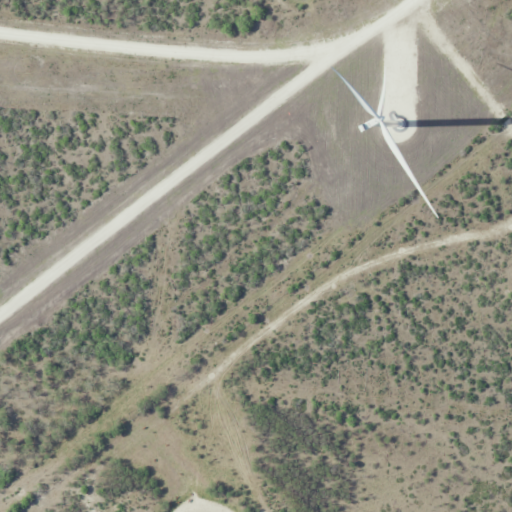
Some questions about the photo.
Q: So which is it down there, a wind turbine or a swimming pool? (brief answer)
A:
wind turbine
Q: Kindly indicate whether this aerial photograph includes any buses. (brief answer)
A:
No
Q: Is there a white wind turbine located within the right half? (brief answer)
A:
Yes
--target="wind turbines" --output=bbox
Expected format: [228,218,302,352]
[336,62,438,218]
